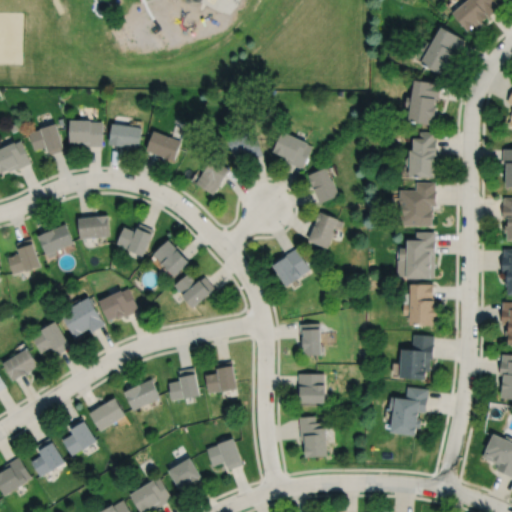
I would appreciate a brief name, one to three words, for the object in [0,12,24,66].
sports court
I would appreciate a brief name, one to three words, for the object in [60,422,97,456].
house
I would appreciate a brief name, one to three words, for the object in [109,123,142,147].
house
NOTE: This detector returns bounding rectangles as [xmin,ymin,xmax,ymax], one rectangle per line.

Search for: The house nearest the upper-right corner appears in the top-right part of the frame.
[452,0,500,31]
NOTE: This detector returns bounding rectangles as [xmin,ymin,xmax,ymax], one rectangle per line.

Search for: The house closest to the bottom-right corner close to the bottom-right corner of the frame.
[482,435,512,476]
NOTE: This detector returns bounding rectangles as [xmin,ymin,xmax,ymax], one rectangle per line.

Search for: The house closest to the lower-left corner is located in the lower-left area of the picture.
[0,458,32,496]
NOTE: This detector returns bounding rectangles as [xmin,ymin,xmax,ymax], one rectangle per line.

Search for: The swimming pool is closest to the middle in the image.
[142,271,157,289]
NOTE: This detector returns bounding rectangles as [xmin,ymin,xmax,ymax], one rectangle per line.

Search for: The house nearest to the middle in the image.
[272,250,311,286]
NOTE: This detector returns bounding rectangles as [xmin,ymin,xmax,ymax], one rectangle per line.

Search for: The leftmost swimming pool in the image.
[58,254,76,272]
